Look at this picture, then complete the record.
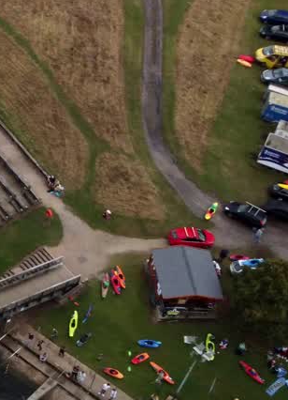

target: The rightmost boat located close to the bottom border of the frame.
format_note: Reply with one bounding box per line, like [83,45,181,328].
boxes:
[238,360,265,385]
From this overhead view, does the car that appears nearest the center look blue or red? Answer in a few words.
red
